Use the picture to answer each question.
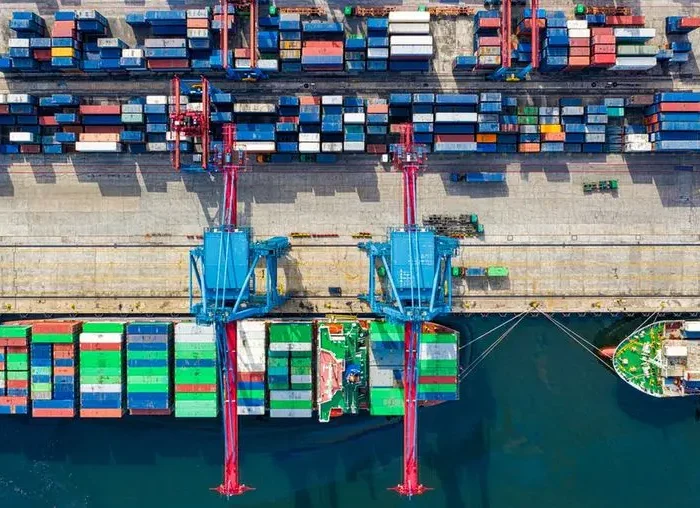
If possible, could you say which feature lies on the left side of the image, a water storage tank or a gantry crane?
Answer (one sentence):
The feature located on the left side of the image is a gantry crane.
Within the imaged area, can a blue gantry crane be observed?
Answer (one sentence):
Yes, there's a blue gantry crane here.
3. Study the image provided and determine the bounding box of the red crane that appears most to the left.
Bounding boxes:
[170,76,222,176]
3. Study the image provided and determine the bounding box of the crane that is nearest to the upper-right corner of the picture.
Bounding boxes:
[487,0,540,82]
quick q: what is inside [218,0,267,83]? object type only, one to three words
crane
